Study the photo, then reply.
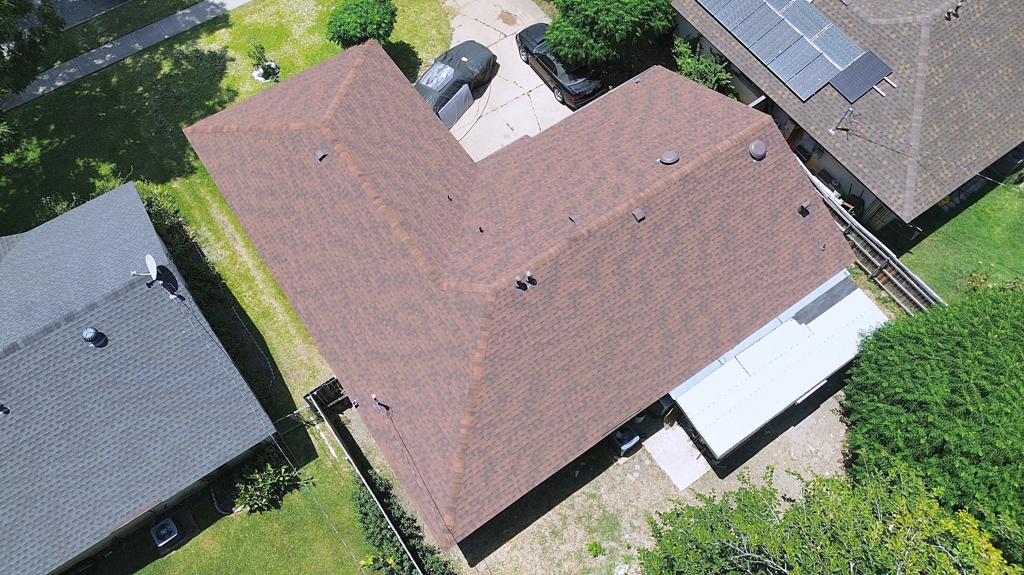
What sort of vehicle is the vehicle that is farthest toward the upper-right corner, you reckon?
automobile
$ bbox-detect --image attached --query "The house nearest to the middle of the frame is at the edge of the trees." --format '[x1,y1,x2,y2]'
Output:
[183,37,855,555]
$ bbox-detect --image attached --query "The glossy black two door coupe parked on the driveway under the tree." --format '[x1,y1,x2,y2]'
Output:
[514,19,611,109]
